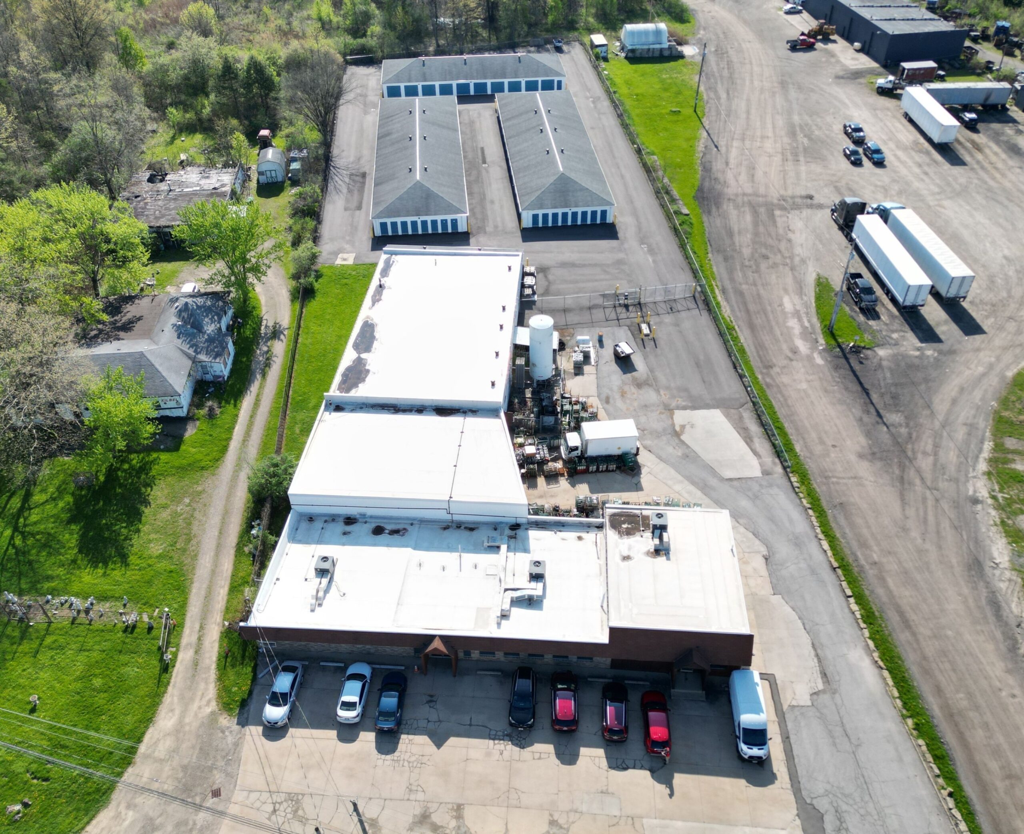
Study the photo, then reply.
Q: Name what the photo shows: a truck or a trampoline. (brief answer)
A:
truck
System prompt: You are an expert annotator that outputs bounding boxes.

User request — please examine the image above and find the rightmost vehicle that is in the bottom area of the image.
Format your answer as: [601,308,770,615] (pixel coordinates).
[725,670,773,762]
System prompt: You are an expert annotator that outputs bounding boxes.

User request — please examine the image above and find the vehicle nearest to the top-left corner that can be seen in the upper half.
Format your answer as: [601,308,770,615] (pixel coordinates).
[255,133,275,152]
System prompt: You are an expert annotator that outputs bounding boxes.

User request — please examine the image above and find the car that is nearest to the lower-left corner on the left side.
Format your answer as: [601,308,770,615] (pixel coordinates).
[264,660,305,727]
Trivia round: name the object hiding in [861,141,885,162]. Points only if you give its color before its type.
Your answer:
blue car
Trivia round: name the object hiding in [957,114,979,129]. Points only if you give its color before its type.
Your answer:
black car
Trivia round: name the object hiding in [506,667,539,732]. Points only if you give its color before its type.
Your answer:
black car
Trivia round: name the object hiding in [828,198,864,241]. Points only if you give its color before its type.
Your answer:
black truck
